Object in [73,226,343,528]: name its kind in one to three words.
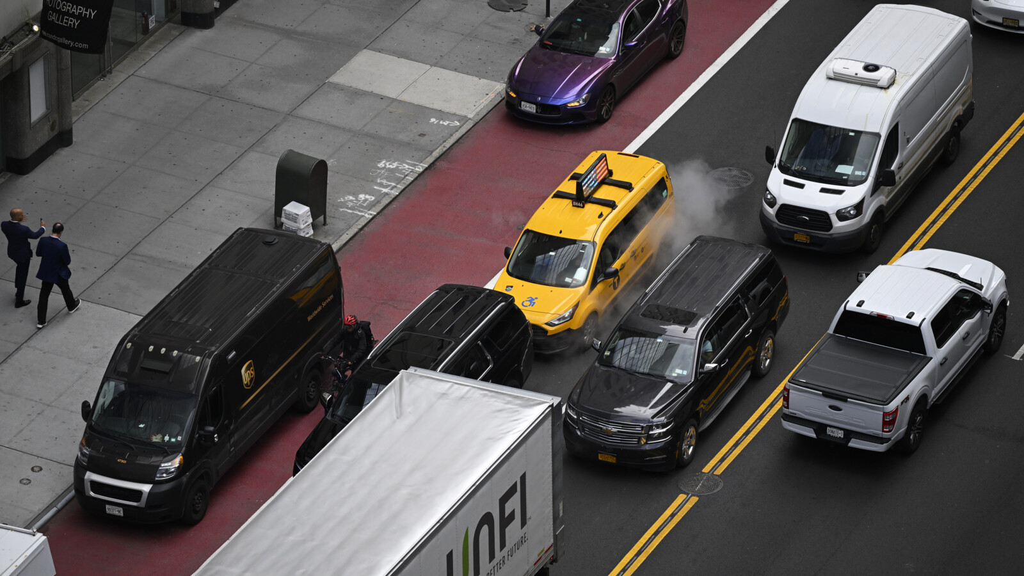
van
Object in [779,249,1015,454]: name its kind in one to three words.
truck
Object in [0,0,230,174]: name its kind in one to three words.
building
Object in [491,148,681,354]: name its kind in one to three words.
vehicle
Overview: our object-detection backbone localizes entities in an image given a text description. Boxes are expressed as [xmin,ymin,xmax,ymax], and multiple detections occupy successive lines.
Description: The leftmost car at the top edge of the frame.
[501,0,689,131]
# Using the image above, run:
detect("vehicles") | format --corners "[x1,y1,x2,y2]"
[779,249,1015,454]
[756,14,973,260]
[299,284,536,466]
[501,0,689,131]
[976,0,1024,40]
[0,518,59,576]
[491,148,681,354]
[73,226,343,528]
[565,239,791,476]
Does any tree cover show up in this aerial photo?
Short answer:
No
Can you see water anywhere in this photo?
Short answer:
No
